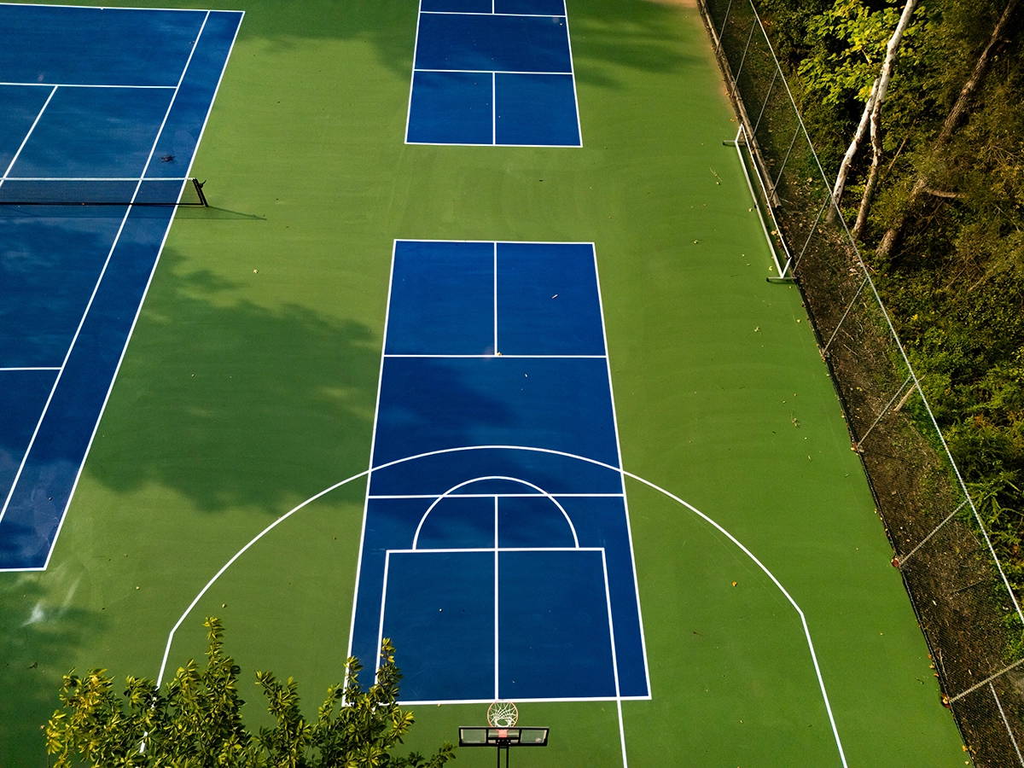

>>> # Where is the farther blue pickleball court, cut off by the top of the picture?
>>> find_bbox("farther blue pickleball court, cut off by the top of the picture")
[405,0,582,147]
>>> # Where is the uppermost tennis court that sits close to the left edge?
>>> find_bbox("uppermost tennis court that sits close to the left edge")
[0,6,245,570]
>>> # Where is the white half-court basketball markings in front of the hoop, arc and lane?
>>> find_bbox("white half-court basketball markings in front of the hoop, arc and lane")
[137,445,847,768]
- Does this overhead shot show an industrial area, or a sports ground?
sports ground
